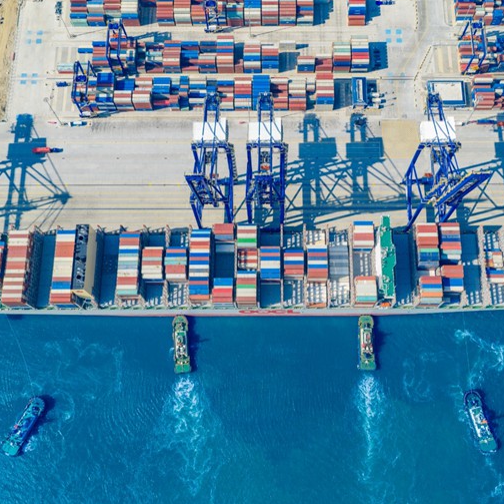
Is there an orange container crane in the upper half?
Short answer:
No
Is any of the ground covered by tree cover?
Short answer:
No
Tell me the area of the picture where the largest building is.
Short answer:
top right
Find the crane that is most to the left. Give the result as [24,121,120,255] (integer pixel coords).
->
[69,61,96,116]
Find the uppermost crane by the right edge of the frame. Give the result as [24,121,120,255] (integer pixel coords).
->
[460,20,491,74]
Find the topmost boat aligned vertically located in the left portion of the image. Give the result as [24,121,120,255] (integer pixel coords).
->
[172,316,192,374]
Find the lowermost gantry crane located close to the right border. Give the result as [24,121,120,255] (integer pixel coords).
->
[401,92,494,231]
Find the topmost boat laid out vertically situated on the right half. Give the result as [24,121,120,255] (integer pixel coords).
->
[356,315,377,374]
